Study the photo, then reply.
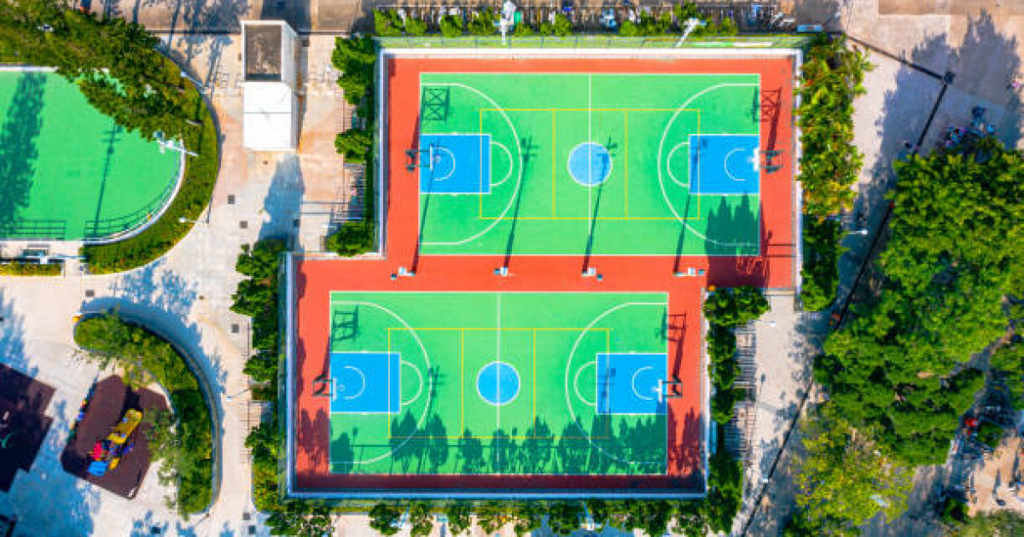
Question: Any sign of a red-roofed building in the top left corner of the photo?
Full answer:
No, no red-roofed building is visible in the top left corner of the photo.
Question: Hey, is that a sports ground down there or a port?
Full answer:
The area seen from above is a sports ground.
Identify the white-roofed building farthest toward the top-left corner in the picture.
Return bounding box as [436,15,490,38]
[241,20,299,155]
